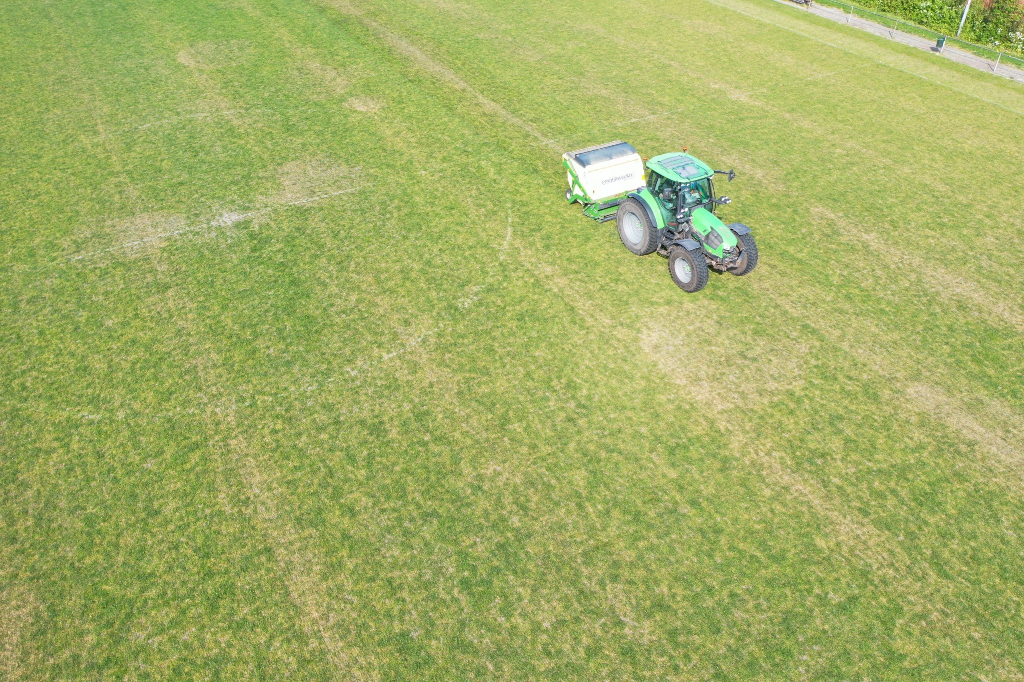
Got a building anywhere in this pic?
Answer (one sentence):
No, there's no building here.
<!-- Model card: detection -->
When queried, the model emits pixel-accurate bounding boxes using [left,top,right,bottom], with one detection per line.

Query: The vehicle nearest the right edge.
[616,146,760,292]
